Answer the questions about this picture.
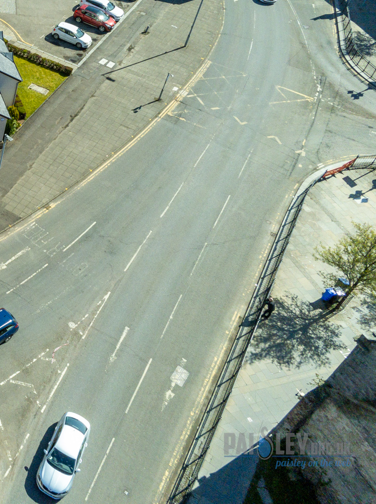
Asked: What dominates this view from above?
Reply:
paved ground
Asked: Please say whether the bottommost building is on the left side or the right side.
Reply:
right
